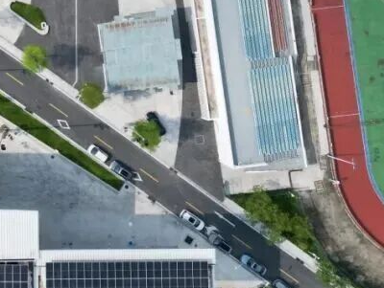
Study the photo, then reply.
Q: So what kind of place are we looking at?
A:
sports ground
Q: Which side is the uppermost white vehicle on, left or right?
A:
left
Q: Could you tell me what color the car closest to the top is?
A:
black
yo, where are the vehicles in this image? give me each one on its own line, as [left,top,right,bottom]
[241,255,269,278]
[178,208,206,231]
[110,161,138,184]
[146,108,170,134]
[208,232,238,258]
[85,142,109,163]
